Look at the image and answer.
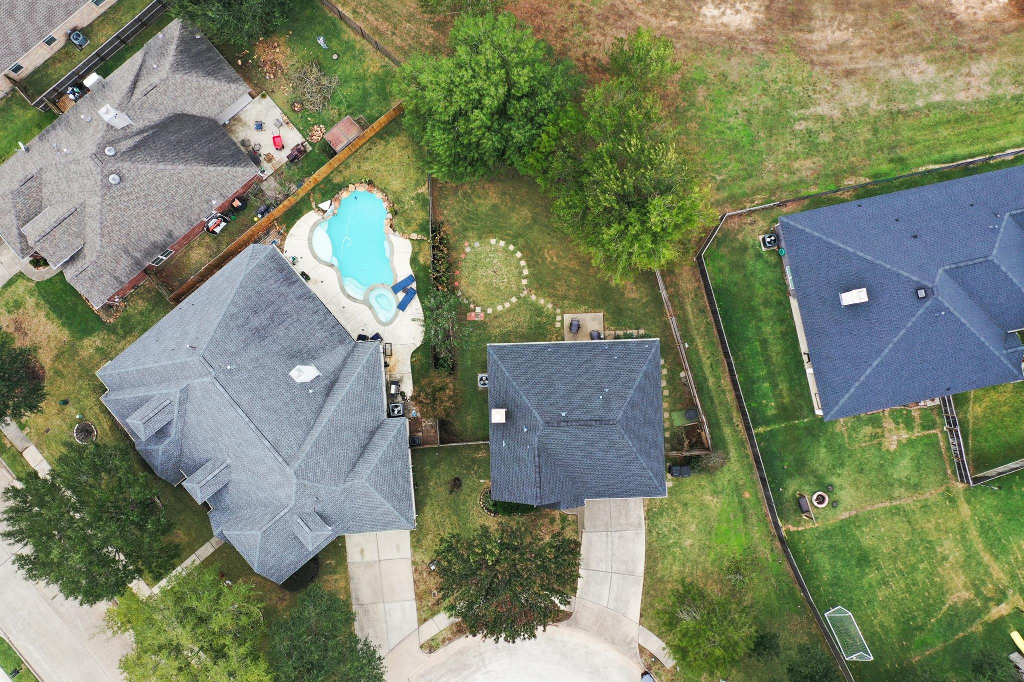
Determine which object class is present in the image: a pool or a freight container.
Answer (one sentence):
The image shows a pool.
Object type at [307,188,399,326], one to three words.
swimming pool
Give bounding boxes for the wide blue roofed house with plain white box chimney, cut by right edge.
[776,166,1024,423]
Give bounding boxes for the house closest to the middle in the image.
[486,339,668,509]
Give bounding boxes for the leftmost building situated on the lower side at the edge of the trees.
[94,243,417,585]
